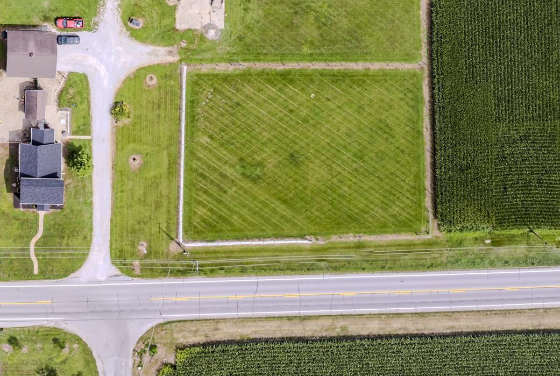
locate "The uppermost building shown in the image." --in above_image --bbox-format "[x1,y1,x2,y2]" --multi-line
[6,30,57,78]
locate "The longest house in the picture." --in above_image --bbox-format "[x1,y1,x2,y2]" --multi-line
[20,121,65,212]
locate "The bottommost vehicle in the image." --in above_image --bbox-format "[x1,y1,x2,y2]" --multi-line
[58,34,81,46]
